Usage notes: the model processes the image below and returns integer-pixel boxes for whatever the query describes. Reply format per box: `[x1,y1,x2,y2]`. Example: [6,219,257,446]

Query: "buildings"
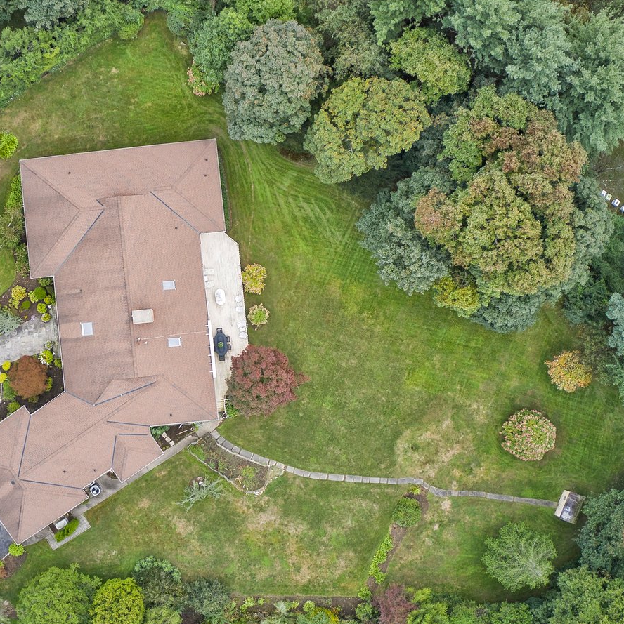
[0,137,226,546]
[555,490,584,524]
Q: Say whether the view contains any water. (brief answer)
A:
No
